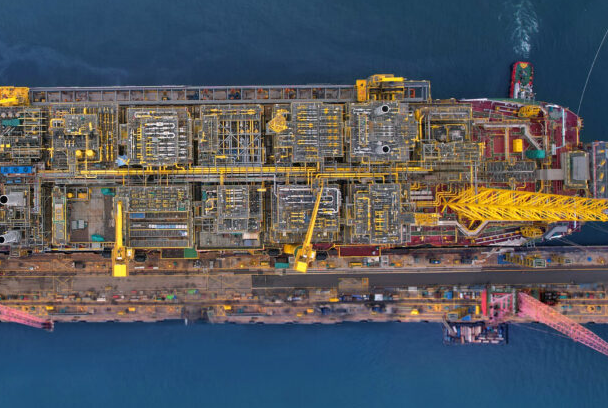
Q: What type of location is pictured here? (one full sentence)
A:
This looks like a port.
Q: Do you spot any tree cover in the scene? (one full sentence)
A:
No, the scene doesn't show any tree cover.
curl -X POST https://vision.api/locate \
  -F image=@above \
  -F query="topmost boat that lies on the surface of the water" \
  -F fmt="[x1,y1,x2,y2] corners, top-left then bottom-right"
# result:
[508,61,534,100]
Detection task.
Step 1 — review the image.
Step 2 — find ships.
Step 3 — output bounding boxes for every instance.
[0,86,608,259]
[441,313,508,344]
